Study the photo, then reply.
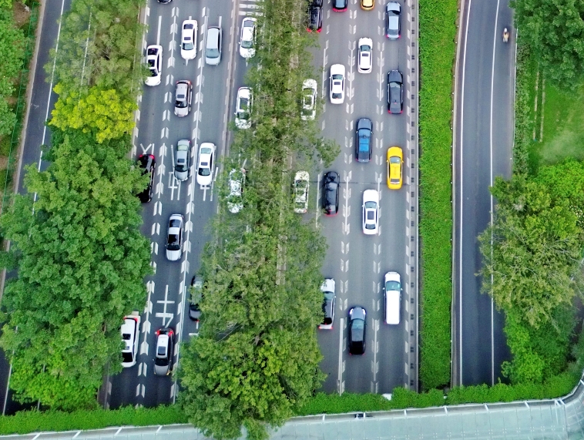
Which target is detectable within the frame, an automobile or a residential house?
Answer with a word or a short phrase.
automobile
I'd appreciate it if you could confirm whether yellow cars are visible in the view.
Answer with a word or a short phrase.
Yes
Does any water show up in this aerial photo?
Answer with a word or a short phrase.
No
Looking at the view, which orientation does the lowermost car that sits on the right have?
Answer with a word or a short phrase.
vertically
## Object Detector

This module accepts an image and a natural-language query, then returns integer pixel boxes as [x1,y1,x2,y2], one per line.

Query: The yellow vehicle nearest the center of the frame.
[385,145,405,190]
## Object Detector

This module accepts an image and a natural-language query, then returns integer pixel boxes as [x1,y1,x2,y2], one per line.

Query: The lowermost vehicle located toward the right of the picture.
[347,303,368,357]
